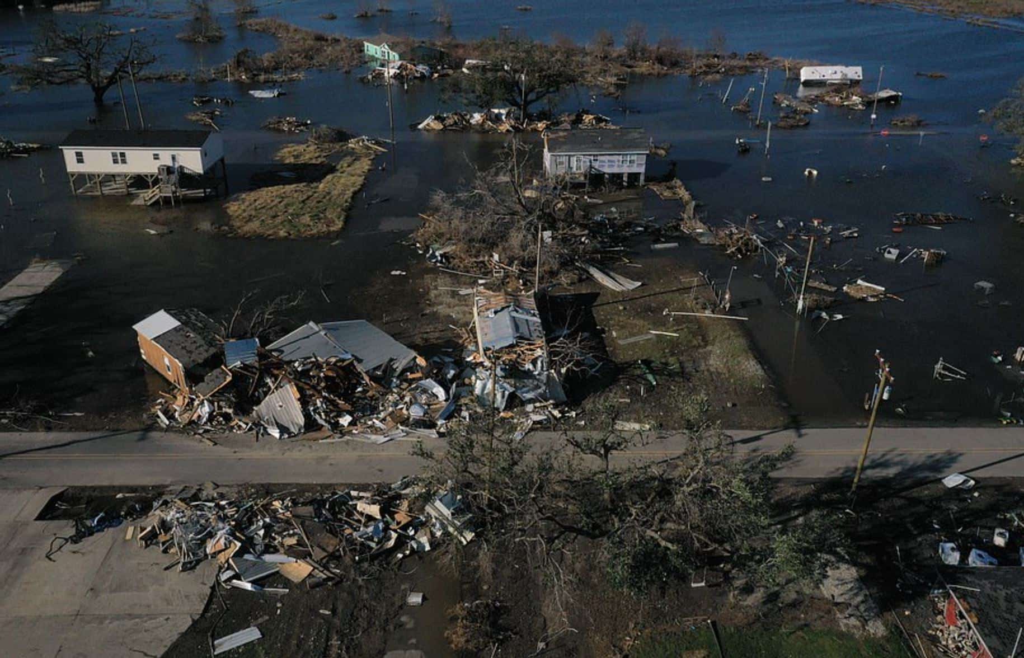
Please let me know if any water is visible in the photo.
Yes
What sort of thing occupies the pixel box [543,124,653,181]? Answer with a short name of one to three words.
house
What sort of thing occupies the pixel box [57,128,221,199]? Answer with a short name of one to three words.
house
